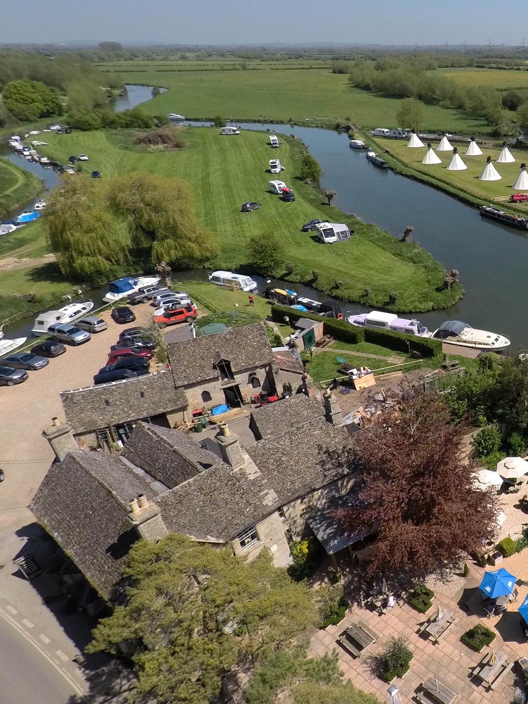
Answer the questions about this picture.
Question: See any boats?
Yes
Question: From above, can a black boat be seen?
Yes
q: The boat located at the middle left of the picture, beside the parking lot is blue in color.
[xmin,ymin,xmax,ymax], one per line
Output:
[102,274,159,302]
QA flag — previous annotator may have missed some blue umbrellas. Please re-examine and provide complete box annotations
[517,594,528,628]
[478,570,517,603]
